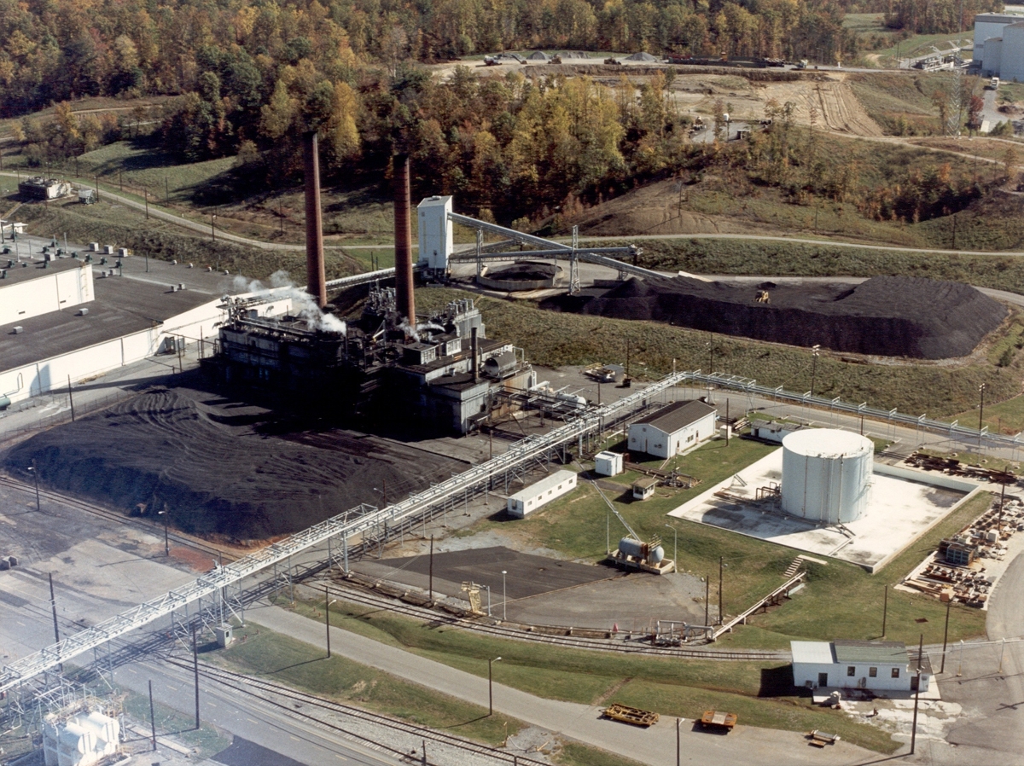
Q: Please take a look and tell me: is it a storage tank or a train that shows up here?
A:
storage tank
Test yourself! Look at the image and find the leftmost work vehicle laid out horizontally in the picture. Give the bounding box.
[481,49,526,64]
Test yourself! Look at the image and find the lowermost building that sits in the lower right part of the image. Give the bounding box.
[786,634,940,692]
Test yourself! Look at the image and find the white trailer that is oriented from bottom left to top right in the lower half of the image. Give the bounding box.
[518,467,580,517]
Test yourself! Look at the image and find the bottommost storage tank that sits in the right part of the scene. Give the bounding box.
[608,533,677,574]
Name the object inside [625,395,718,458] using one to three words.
building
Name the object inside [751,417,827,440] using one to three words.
shed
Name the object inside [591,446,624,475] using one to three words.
shed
